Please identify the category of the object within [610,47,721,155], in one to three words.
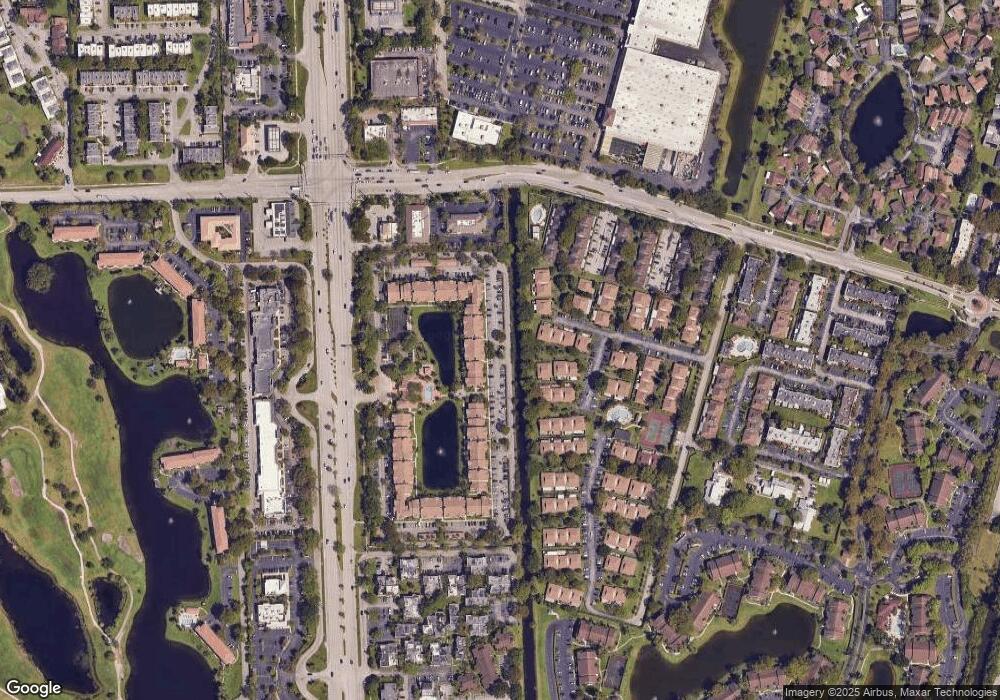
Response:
building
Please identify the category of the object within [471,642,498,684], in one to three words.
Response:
house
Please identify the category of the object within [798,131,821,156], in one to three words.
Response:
house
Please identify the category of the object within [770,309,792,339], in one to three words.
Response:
building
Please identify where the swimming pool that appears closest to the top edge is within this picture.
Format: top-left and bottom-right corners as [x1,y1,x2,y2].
[528,204,546,225]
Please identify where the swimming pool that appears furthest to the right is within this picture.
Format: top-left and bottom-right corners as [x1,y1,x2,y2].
[888,605,907,640]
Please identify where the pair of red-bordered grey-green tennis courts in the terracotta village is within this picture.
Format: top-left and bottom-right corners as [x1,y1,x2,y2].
[640,409,675,450]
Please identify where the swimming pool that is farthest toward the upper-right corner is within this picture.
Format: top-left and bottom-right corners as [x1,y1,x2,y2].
[730,336,756,358]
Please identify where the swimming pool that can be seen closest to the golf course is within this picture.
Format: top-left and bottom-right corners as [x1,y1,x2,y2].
[179,613,199,627]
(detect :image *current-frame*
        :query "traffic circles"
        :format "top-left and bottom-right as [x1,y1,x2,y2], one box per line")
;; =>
[951,286,1000,322]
